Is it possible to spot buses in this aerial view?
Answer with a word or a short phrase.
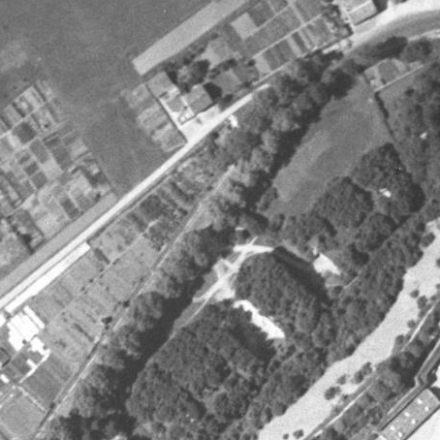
No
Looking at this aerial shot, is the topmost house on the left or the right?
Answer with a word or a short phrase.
right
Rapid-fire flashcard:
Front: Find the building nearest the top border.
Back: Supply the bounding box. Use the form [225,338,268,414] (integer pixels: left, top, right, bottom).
[340,0,377,25]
